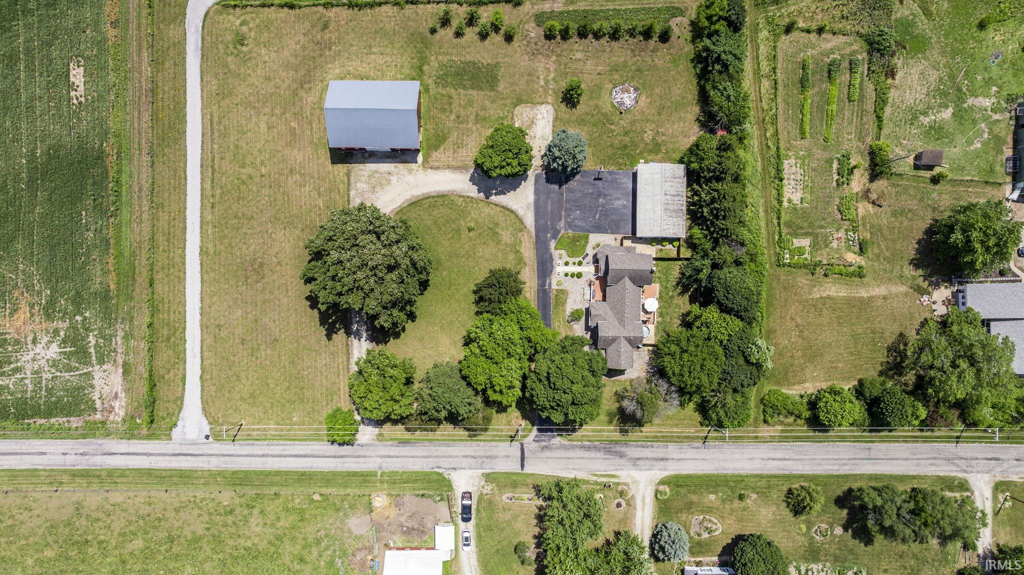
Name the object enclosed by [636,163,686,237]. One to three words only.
building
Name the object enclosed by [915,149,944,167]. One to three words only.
shed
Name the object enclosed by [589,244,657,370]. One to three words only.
house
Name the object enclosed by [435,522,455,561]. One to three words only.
shed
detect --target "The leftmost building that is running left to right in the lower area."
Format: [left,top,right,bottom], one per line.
[384,547,441,575]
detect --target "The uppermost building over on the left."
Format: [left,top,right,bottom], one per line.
[324,80,423,152]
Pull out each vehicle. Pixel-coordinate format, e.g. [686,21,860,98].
[460,530,471,554]
[460,491,472,523]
